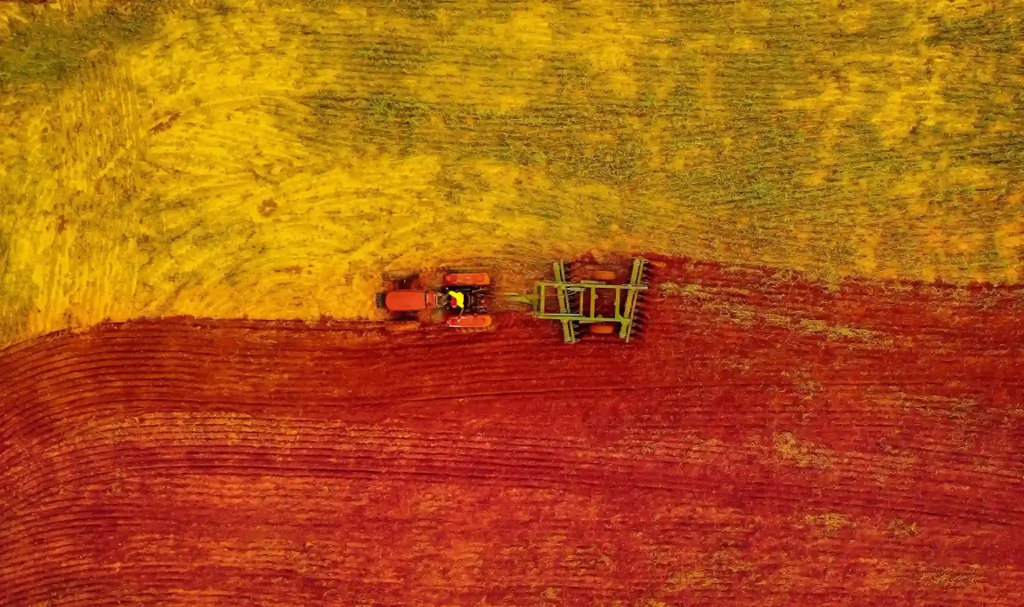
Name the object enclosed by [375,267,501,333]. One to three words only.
work vehicle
